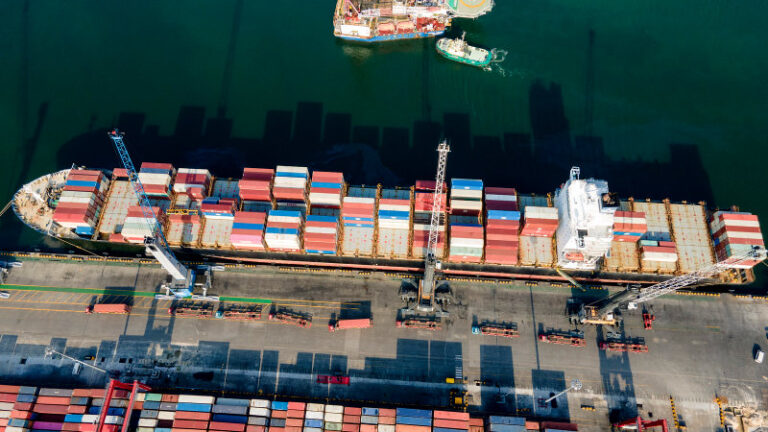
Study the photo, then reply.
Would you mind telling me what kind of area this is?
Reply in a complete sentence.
The area seen from above is a port.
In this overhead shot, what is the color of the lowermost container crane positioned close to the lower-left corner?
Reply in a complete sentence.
The lowermost container crane positioned close to the lower-left corner looks red in the image.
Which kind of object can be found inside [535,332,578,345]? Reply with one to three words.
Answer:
vehicle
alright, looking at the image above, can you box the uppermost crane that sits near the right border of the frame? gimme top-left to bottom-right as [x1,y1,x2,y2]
[570,240,768,334]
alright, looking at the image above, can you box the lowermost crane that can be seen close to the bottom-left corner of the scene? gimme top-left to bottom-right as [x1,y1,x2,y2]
[94,378,161,432]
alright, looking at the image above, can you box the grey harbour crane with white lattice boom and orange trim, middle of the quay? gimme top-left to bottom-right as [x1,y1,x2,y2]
[398,136,451,320]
